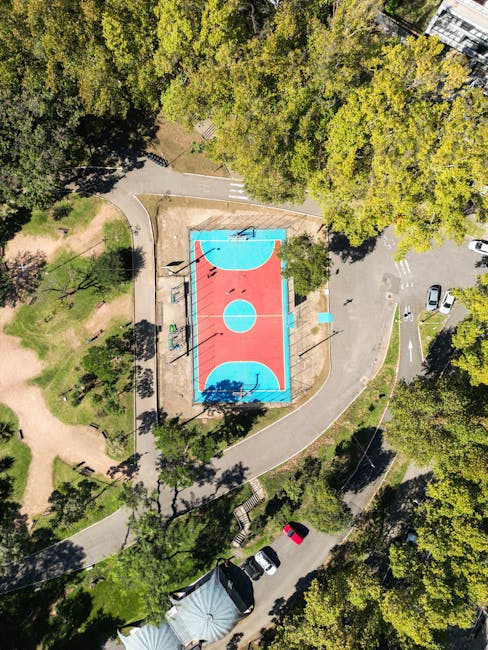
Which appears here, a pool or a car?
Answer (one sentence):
It is a car that can be seen here.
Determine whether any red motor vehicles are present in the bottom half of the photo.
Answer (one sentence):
Yes, there is a red motor vehicle in the bottom half of the photo.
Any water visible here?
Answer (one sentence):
No, there's no water in this view.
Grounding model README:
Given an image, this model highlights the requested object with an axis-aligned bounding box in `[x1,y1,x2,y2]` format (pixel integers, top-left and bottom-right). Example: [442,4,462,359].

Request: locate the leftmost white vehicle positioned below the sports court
[256,551,275,574]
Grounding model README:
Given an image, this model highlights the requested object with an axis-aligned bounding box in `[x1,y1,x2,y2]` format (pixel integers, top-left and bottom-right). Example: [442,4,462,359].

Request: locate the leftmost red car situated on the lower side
[283,524,303,545]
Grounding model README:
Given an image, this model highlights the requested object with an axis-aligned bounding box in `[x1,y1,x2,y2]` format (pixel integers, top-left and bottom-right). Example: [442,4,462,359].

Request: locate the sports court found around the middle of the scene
[191,229,289,402]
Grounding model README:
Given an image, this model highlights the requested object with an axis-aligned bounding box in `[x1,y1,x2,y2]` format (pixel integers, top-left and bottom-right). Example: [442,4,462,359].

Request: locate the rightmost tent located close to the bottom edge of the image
[170,548,244,646]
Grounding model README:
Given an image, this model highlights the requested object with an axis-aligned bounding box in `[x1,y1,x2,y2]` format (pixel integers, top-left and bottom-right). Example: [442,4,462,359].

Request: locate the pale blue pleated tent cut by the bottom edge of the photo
[117,607,185,650]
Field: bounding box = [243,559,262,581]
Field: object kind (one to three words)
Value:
car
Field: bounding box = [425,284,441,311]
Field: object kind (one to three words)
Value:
car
